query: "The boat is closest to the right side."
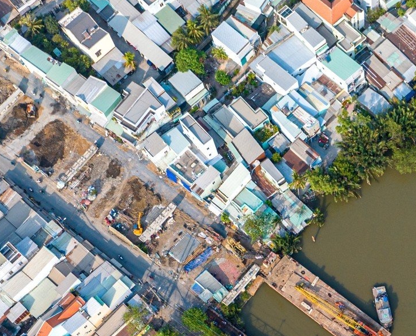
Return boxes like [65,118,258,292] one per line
[373,285,392,329]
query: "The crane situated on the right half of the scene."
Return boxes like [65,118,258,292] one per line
[295,285,379,336]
